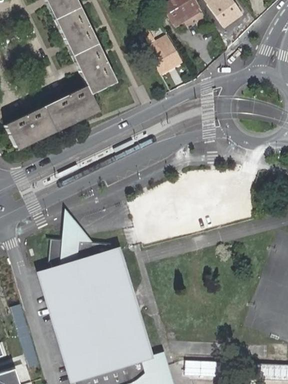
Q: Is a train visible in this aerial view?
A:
Yes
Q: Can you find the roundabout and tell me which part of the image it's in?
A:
top right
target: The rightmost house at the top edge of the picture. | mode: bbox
[204,0,242,28]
